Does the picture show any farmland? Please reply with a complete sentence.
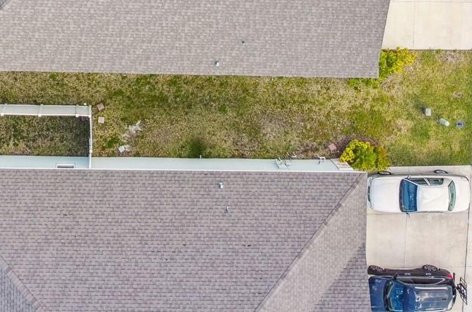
No, the picture contains no farmland.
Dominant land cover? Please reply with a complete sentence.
For the most part, this view shows buildings.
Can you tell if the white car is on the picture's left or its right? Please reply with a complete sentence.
The white car is on the right side of the image.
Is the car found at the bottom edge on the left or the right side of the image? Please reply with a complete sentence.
The car found at the bottom edge is on the right side of the image.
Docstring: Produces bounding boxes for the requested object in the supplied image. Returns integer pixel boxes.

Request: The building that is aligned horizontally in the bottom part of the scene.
[0,157,372,312]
